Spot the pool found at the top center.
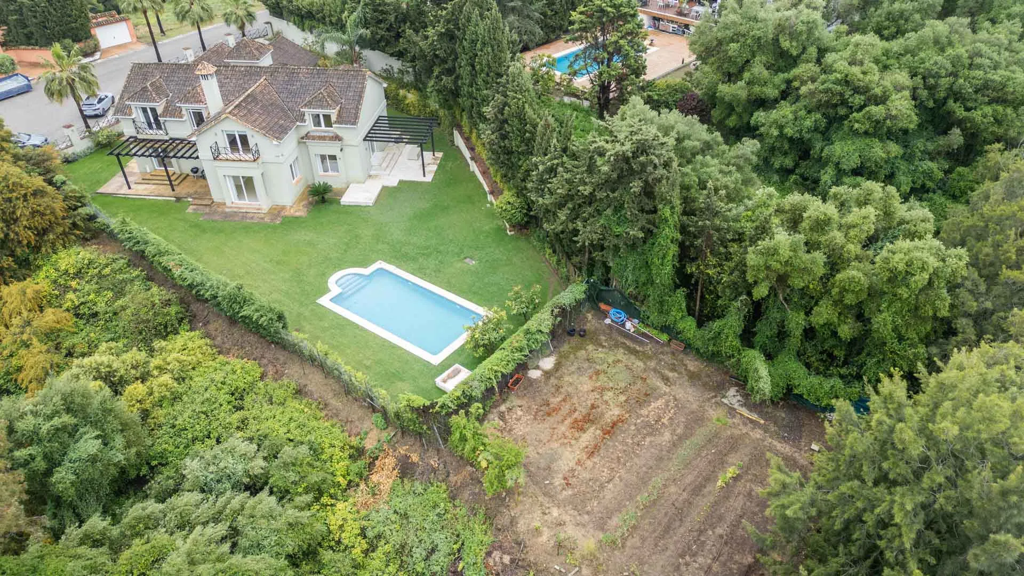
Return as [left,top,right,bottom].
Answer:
[546,41,657,80]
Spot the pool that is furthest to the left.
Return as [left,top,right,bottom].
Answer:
[317,261,488,364]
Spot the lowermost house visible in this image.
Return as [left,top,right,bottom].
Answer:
[114,36,391,211]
